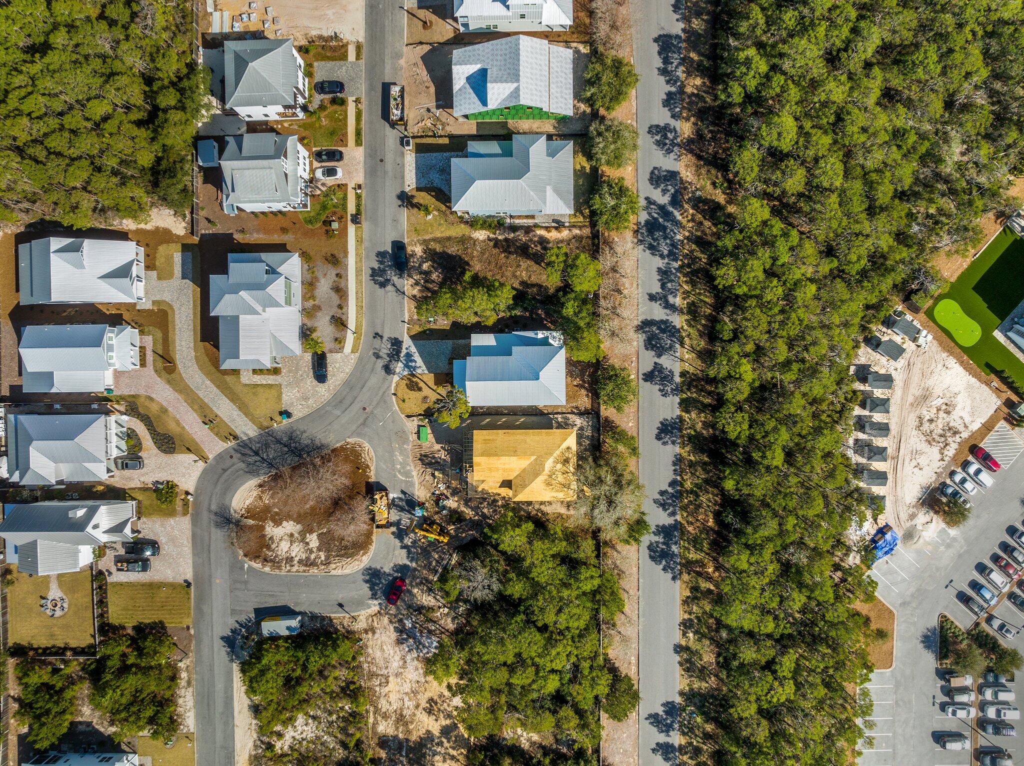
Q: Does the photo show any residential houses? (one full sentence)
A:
Yes, a residential house is visible in the scene.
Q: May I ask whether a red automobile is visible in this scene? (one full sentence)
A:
Yes, I can see a red automobile in this picture.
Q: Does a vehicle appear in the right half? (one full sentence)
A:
Yes, a vehicle is visible in the right half.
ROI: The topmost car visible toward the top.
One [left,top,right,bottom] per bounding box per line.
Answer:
[315,79,345,95]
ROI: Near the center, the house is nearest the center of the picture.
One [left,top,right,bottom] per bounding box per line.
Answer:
[453,331,566,406]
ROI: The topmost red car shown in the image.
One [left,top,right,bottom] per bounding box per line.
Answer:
[970,443,1005,473]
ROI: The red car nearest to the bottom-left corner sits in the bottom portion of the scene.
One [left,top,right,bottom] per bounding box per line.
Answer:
[385,575,407,608]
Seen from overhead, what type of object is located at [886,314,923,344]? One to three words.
shed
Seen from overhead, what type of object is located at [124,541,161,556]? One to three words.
vehicle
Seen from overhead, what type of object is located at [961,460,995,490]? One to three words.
car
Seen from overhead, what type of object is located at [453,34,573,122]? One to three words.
house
